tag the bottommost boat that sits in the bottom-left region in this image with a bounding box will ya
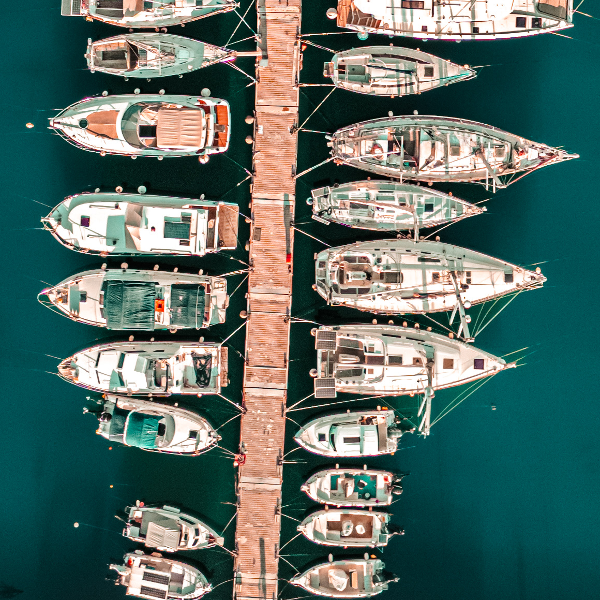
[110,554,212,600]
